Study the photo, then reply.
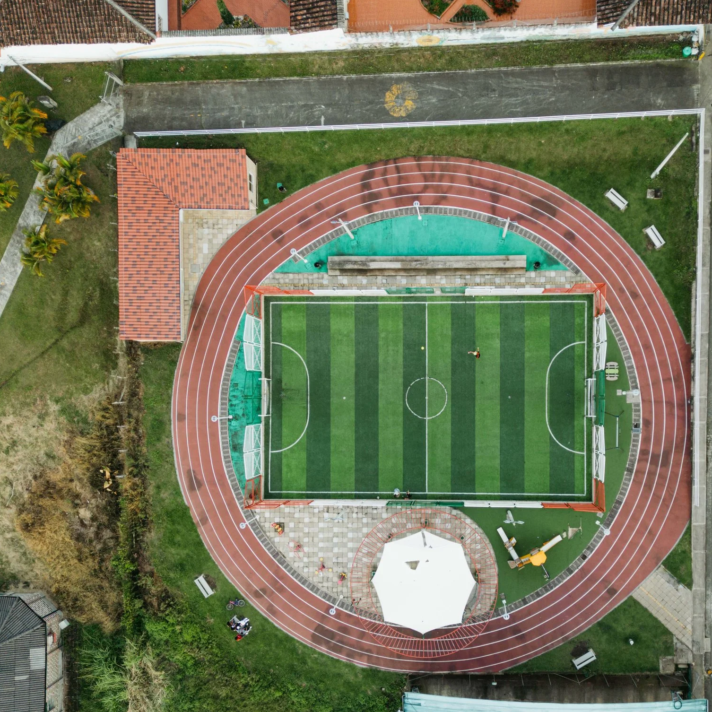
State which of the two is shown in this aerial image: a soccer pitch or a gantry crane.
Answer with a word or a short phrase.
soccer pitch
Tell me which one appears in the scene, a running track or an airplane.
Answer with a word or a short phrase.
running track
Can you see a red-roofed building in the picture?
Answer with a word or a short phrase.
Yes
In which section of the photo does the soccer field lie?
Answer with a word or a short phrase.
center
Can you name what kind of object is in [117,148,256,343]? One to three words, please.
building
